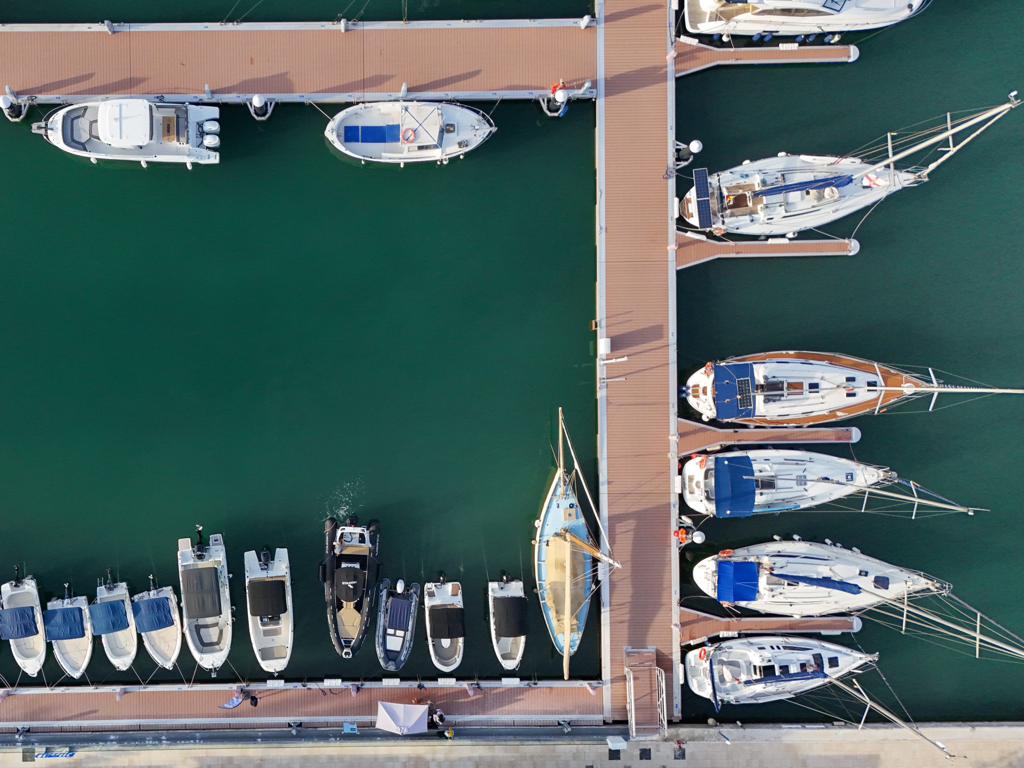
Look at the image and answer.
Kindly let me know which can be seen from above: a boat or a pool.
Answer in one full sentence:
Looking from above, you can make out a boat.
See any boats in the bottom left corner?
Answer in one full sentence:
Yes, there is a boat in the bottom left corner.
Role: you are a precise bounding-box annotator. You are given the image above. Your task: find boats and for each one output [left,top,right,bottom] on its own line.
[0,564,48,677]
[424,570,465,672]
[676,0,930,41]
[534,406,623,680]
[678,90,1023,236]
[32,99,222,167]
[488,569,526,670]
[45,583,94,679]
[376,578,419,672]
[178,527,232,677]
[90,568,138,671]
[675,350,1024,426]
[681,449,990,519]
[133,575,182,670]
[692,540,1024,665]
[324,515,380,658]
[324,102,497,163]
[683,635,968,761]
[244,547,294,676]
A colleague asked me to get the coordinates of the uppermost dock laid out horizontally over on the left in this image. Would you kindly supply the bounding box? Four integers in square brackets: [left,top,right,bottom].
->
[0,18,596,123]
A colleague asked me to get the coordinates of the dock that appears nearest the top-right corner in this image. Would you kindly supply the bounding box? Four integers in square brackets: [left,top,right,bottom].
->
[675,36,859,79]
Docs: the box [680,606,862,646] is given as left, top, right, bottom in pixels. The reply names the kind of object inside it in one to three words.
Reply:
pier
